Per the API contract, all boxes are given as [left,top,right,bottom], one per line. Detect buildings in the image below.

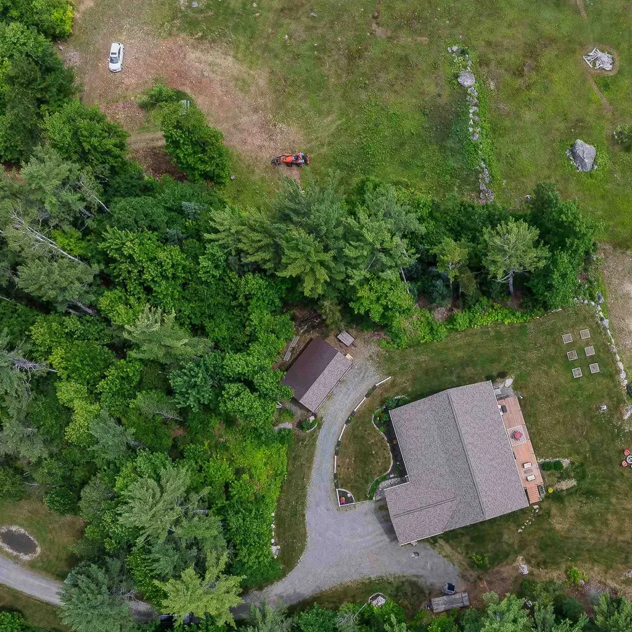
[281,337,355,414]
[382,381,529,547]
